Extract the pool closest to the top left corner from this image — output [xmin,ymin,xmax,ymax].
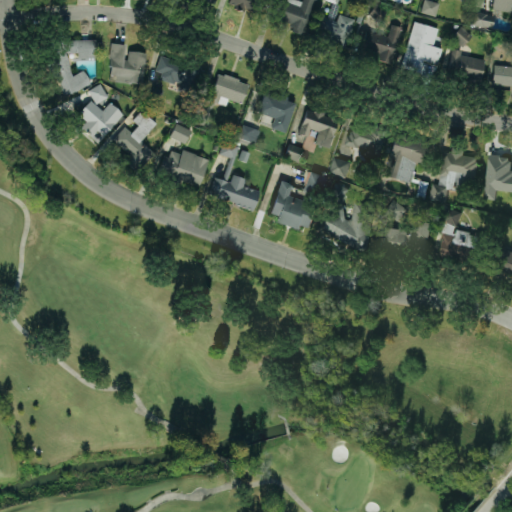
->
[76,61,96,80]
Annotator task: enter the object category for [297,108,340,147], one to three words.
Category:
house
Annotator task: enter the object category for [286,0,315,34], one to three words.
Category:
house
